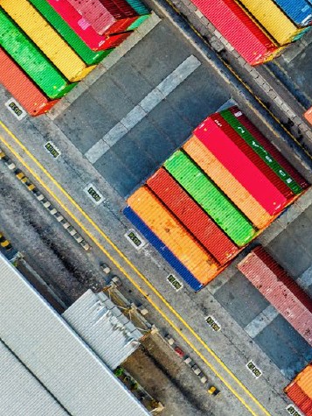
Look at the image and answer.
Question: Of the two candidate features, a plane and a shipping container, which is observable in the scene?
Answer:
shipping container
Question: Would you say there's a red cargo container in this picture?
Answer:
Yes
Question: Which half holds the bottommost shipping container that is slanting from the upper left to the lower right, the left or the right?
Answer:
right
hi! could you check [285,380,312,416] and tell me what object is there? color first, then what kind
red shipping container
